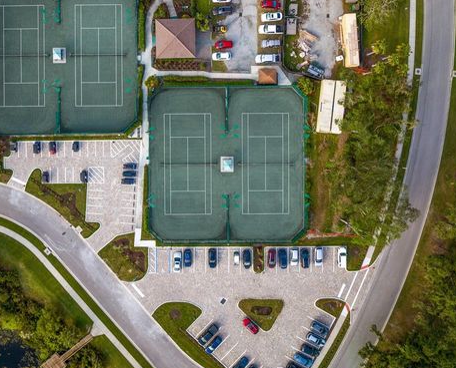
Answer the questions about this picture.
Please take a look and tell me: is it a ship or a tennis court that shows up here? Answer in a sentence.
Looking from above, you can make out a tennis court.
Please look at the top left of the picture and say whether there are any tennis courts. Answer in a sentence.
Yes, you'll find a tennis court at the top left of the picture.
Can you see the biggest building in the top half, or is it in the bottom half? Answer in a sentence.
You can find the biggest building in the top half.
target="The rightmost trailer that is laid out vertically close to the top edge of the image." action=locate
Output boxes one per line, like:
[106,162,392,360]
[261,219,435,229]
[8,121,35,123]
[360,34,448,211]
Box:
[340,12,360,68]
